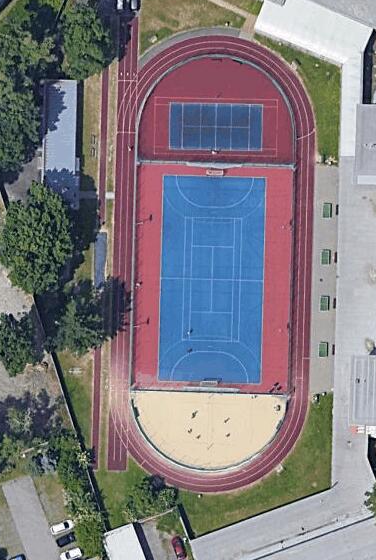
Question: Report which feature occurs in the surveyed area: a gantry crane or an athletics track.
athletics track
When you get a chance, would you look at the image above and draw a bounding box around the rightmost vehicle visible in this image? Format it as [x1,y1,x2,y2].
[172,536,187,559]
